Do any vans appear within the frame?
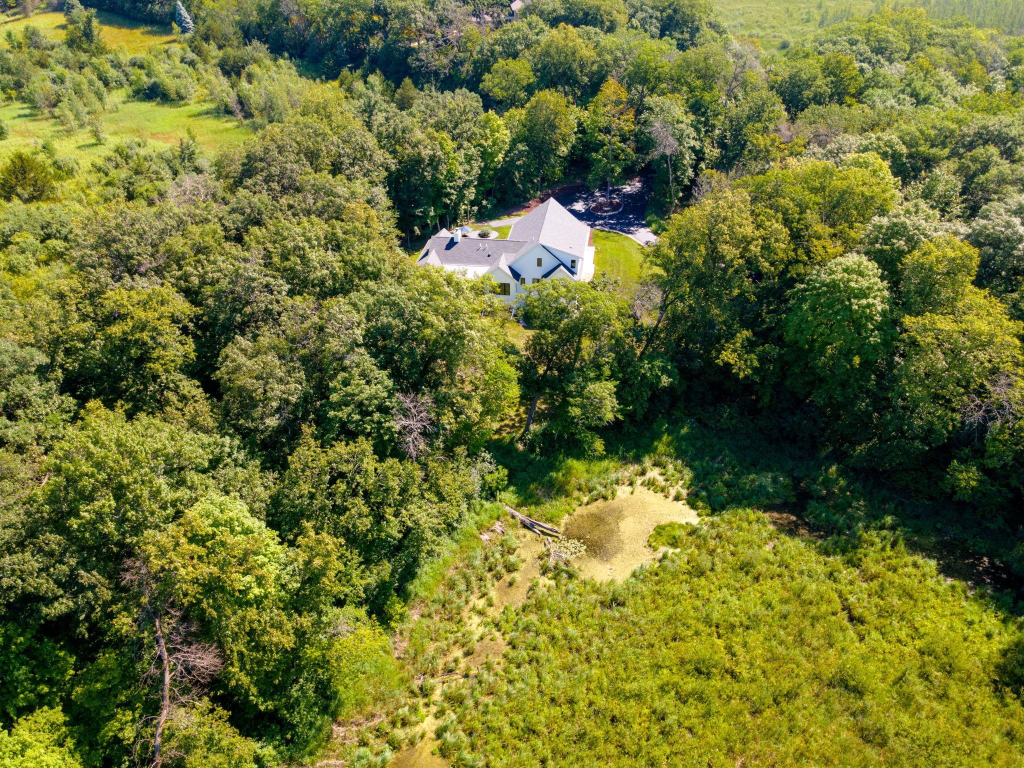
No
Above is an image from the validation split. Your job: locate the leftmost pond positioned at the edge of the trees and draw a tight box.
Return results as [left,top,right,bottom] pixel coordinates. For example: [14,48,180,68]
[558,467,698,581]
